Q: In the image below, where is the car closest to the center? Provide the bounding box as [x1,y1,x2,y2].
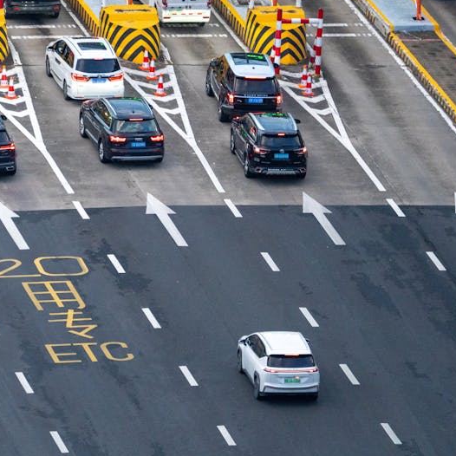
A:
[232,117,304,178]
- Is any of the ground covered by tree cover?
No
